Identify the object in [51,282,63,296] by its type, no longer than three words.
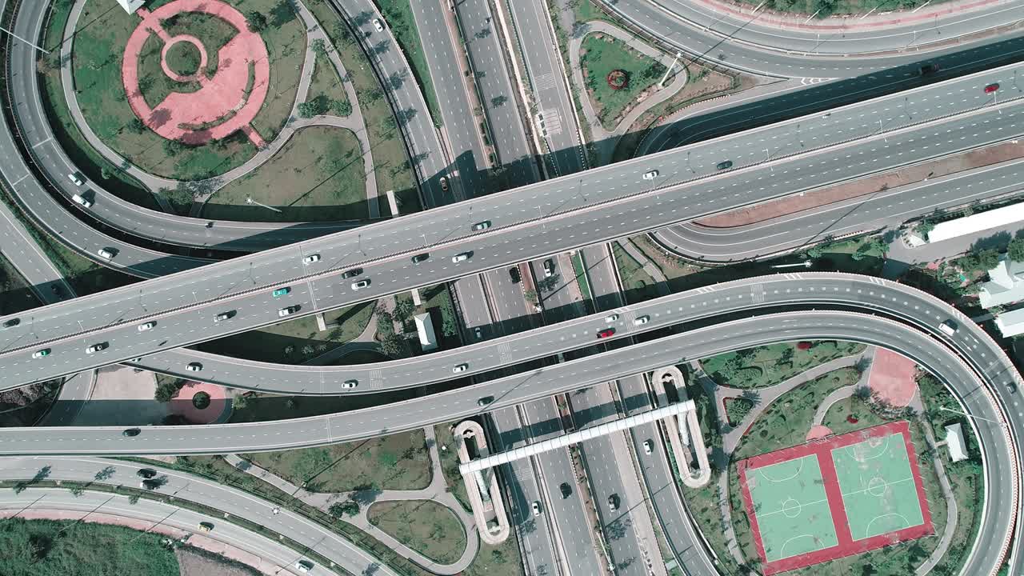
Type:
vehicle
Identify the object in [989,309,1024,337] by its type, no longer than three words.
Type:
house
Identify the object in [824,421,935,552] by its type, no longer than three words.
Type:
sports court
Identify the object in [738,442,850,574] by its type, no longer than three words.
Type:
sports court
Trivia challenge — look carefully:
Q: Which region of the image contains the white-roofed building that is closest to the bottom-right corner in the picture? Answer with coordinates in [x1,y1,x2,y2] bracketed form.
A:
[940,423,968,461]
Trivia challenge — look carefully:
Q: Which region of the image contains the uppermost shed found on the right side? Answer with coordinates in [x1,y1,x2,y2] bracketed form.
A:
[923,202,1024,244]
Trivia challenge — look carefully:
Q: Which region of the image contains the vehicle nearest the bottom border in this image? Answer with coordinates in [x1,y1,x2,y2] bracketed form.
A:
[296,559,311,573]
